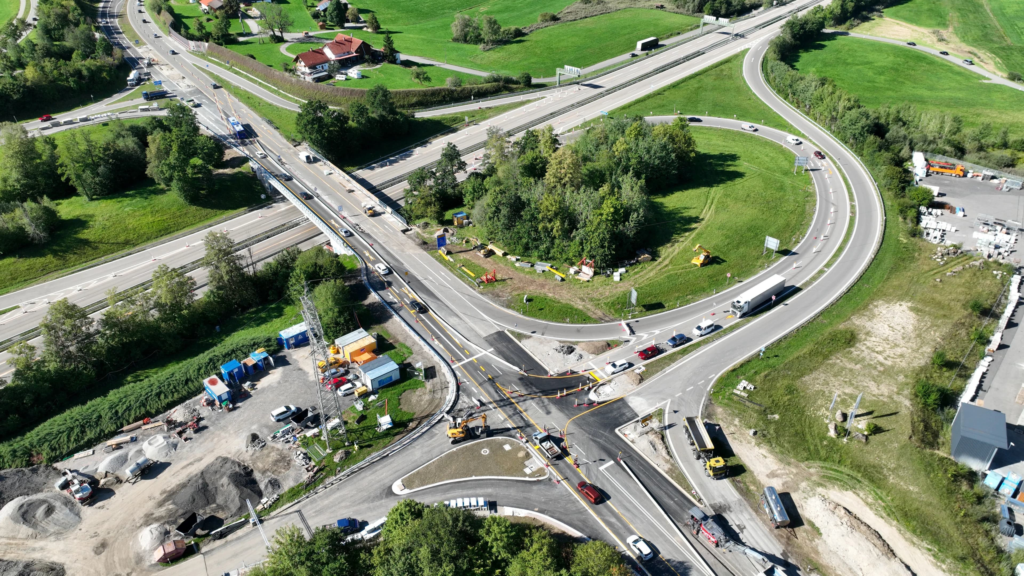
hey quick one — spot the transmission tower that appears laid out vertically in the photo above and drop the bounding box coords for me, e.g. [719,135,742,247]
[306,285,356,460]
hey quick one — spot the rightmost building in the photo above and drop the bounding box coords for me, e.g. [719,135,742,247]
[952,397,1012,472]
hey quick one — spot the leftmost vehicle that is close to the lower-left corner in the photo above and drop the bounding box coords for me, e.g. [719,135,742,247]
[59,456,91,500]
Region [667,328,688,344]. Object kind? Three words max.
car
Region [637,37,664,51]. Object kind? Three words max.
vehicle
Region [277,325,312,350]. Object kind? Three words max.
shipping container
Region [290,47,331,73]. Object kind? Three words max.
house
